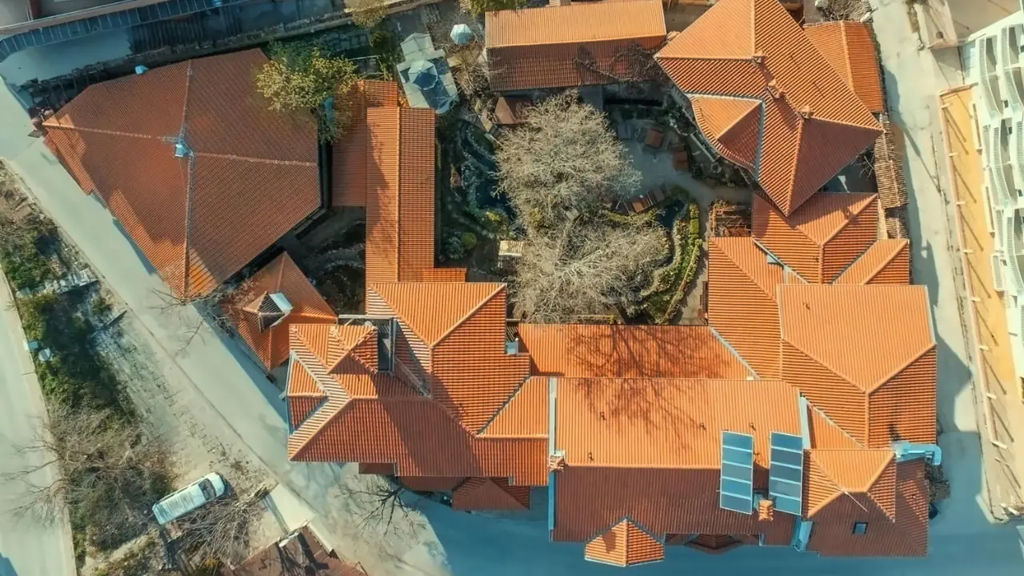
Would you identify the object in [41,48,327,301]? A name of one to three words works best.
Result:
house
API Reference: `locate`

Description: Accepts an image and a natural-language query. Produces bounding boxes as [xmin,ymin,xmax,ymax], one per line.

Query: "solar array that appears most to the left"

[715,430,754,514]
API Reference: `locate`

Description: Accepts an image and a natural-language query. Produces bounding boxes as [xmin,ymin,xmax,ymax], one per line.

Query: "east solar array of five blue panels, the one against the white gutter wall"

[763,430,802,515]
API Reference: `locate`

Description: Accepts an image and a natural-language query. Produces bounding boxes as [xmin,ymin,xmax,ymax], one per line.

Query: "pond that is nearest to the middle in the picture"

[463,132,518,214]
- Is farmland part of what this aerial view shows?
No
